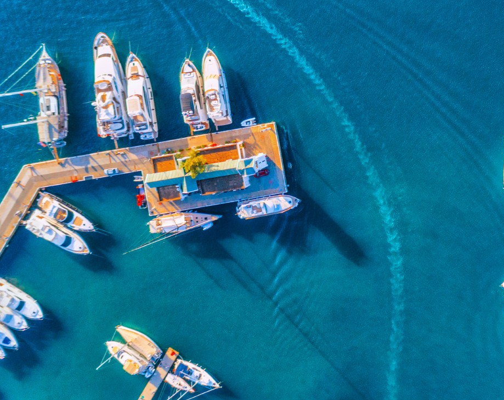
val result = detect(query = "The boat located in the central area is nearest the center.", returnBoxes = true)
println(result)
[238,193,300,220]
